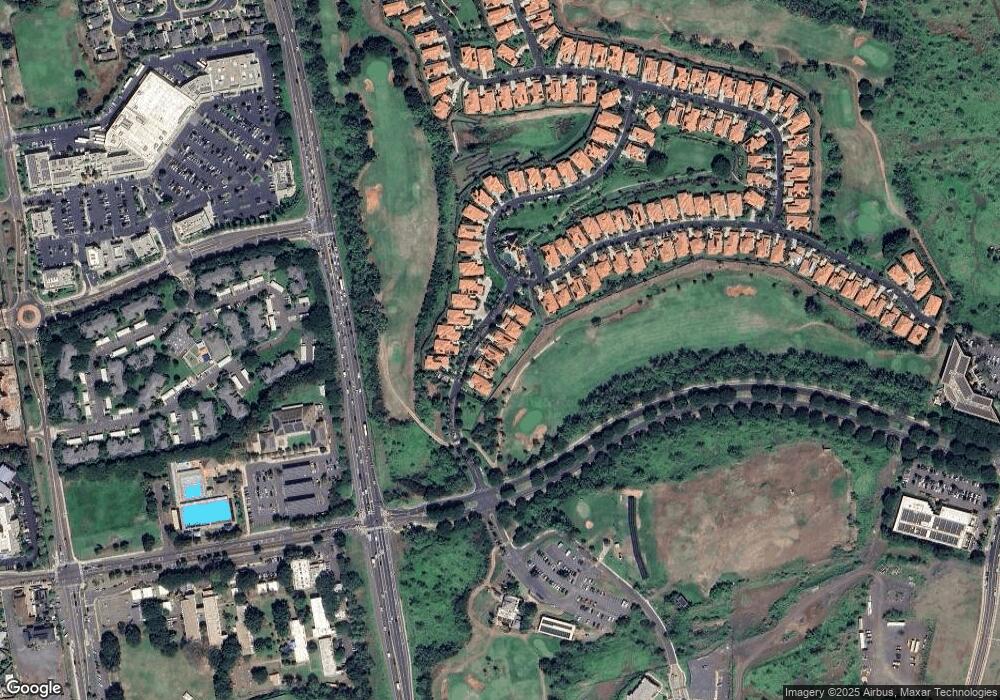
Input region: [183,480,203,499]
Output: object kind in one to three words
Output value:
swimming pool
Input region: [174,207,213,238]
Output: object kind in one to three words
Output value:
building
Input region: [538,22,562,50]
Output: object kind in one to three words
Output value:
house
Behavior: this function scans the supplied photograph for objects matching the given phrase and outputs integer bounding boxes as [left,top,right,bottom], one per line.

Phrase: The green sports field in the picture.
[15,2,83,115]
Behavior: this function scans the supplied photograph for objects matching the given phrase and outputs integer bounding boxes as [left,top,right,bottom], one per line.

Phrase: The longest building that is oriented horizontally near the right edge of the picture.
[894,496,983,549]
